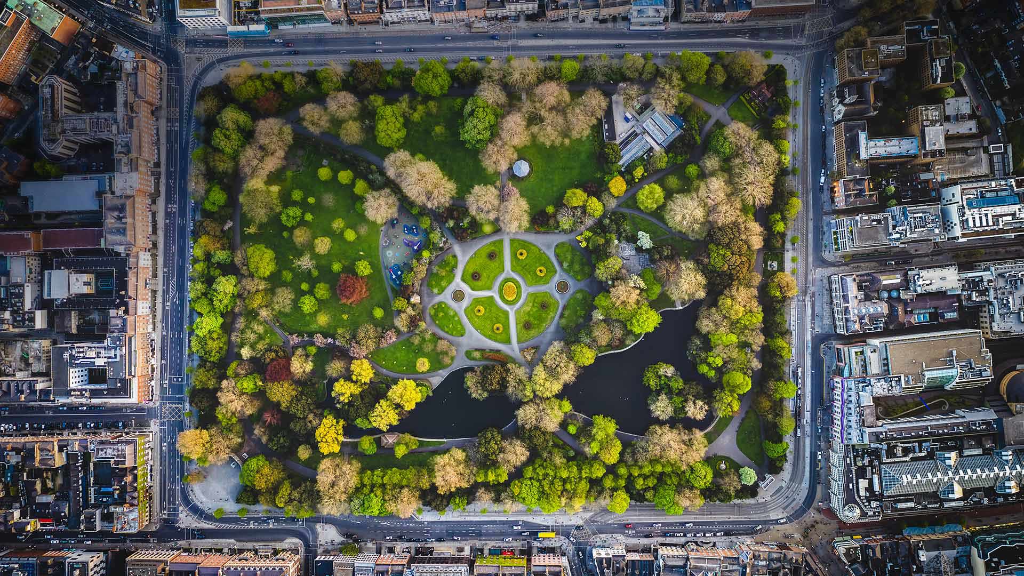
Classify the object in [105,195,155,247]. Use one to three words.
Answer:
house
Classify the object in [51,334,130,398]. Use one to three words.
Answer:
building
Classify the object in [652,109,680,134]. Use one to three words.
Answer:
greenhouse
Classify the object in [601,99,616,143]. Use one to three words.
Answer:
shed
